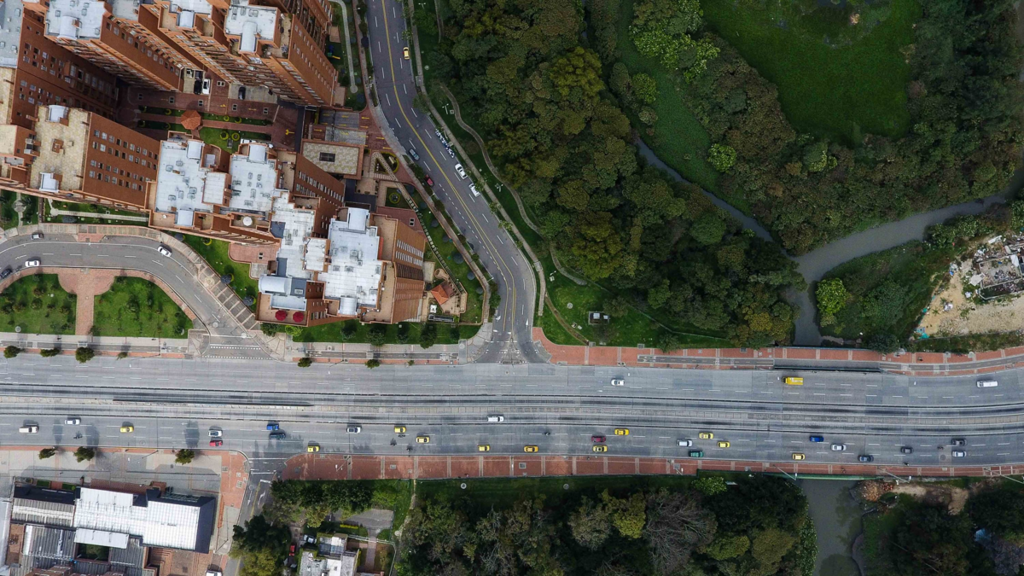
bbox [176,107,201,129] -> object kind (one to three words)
gazebo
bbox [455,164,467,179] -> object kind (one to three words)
vehicle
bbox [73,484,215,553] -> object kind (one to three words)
building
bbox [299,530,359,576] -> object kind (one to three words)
house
